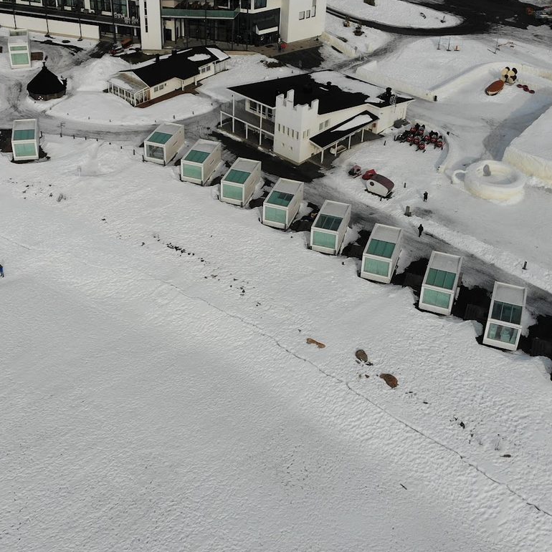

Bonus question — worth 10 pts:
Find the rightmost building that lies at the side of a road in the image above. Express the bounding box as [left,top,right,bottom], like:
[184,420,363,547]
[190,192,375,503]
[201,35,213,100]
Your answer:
[481,282,526,355]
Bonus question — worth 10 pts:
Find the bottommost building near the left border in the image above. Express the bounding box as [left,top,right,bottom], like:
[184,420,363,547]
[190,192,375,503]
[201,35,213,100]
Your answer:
[13,119,40,162]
